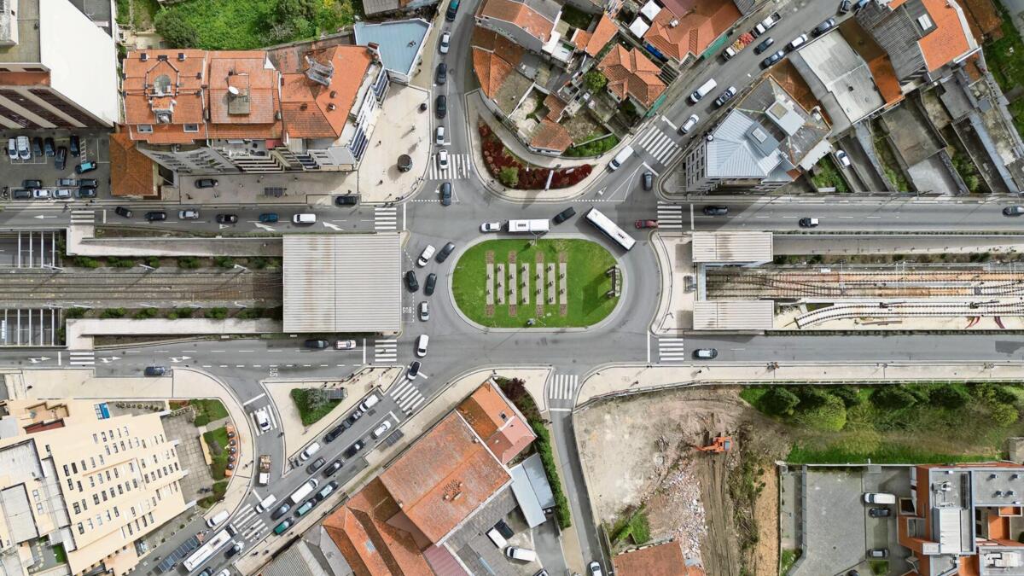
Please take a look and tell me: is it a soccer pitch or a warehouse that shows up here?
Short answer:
warehouse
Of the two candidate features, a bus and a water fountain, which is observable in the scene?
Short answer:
bus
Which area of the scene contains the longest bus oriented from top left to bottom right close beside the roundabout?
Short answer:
center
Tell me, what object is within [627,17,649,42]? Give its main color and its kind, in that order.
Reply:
white gazebo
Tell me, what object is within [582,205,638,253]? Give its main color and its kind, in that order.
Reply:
white bus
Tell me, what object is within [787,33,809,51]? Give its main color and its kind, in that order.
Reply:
white car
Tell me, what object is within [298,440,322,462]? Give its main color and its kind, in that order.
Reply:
white vehicle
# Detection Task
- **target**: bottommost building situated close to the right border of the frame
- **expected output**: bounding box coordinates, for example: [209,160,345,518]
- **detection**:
[894,463,1024,576]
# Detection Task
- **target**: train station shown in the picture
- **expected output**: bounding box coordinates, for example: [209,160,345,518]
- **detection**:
[280,233,403,333]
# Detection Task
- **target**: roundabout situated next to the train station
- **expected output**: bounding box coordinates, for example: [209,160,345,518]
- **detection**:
[447,233,628,332]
